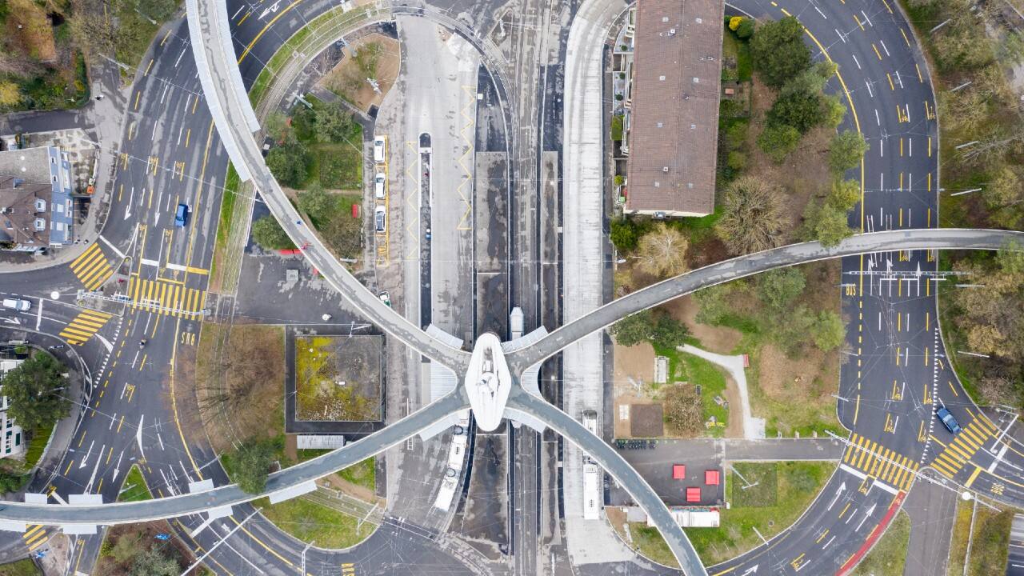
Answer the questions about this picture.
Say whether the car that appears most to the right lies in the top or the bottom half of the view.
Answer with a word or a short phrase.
bottom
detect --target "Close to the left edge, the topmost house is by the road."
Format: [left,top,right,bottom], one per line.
[0,146,81,247]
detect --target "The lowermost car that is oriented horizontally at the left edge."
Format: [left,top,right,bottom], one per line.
[1,298,33,311]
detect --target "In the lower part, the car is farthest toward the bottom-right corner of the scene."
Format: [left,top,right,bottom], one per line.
[936,406,961,435]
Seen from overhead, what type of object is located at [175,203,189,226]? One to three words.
car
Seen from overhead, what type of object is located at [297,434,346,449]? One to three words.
shed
